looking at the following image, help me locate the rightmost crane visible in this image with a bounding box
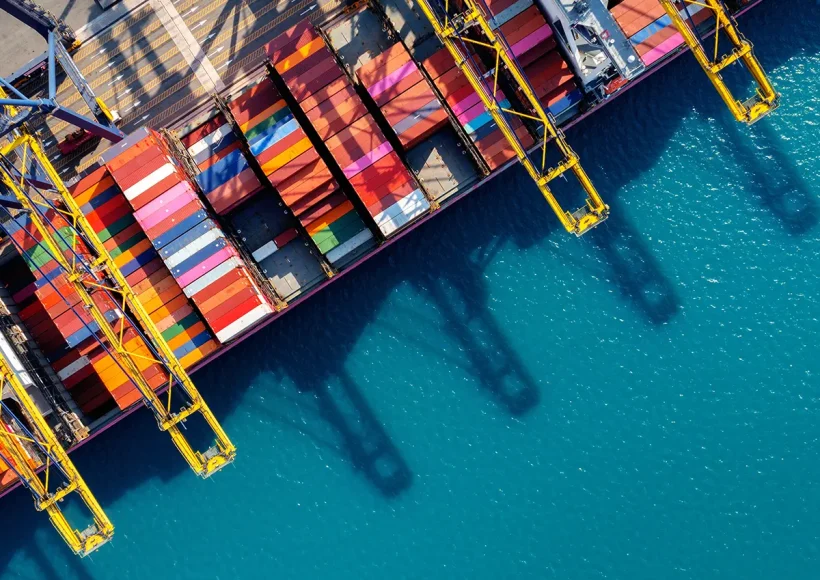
[662,0,786,125]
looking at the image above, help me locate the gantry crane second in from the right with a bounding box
[420,0,612,236]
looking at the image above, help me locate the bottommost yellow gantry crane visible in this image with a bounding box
[0,348,114,560]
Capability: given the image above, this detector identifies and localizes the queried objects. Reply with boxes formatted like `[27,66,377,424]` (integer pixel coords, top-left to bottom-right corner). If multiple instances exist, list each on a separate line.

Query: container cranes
[0,0,235,480]
[420,0,612,236]
[662,0,786,125]
[0,348,114,560]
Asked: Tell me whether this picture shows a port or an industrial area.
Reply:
port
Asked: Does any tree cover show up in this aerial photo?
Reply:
No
